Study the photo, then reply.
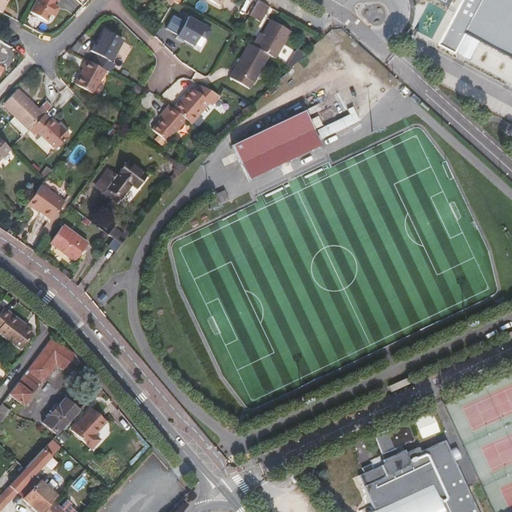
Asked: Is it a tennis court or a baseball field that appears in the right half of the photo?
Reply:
tennis court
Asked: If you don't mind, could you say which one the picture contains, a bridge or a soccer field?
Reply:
soccer field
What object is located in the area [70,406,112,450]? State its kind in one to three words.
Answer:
house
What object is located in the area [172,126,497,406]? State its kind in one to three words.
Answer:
soccer field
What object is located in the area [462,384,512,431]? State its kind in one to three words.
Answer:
tennis court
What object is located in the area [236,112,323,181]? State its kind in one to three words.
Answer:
building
